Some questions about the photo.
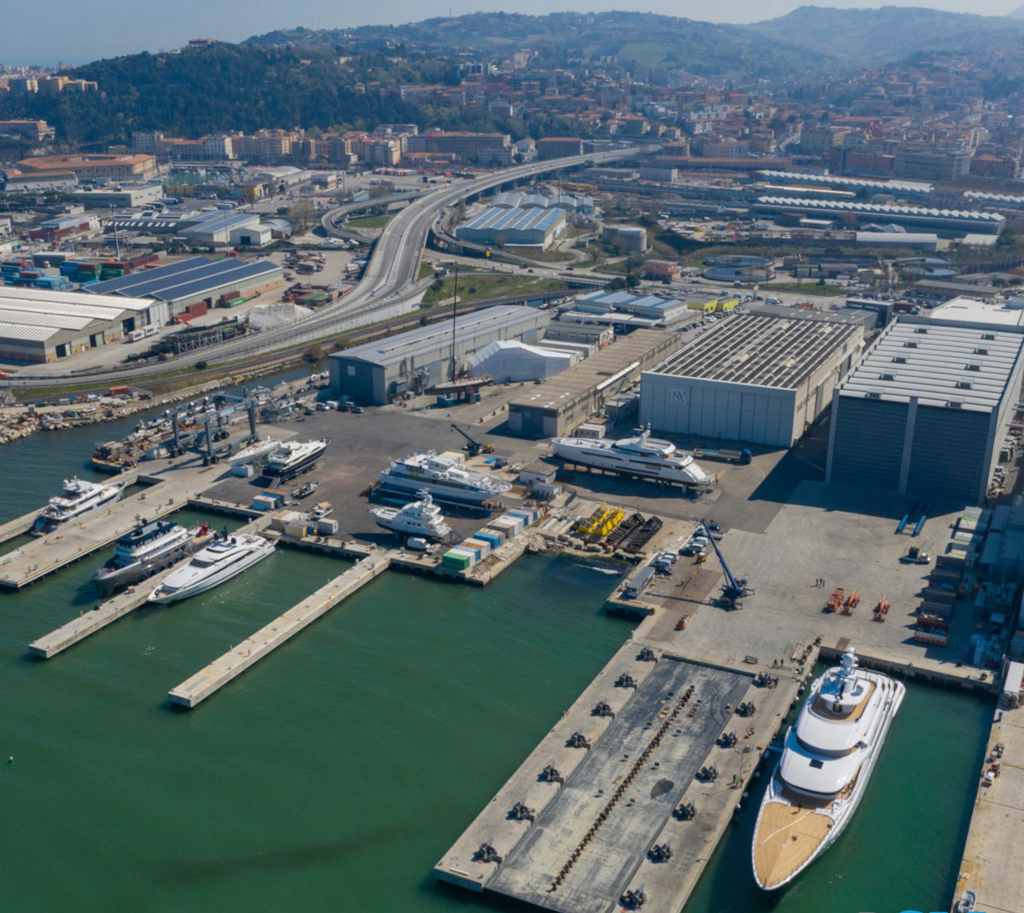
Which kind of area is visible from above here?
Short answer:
port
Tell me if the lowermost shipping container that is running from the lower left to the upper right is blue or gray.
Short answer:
gray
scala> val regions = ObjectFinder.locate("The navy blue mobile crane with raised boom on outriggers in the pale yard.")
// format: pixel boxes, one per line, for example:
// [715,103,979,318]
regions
[701,519,749,614]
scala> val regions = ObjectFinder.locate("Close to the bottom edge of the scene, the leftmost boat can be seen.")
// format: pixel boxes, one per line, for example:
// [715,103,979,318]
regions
[756,640,902,899]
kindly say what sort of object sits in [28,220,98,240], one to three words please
building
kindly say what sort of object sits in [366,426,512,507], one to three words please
ship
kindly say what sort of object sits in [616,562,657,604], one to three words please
shipping container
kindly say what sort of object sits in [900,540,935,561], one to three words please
truck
